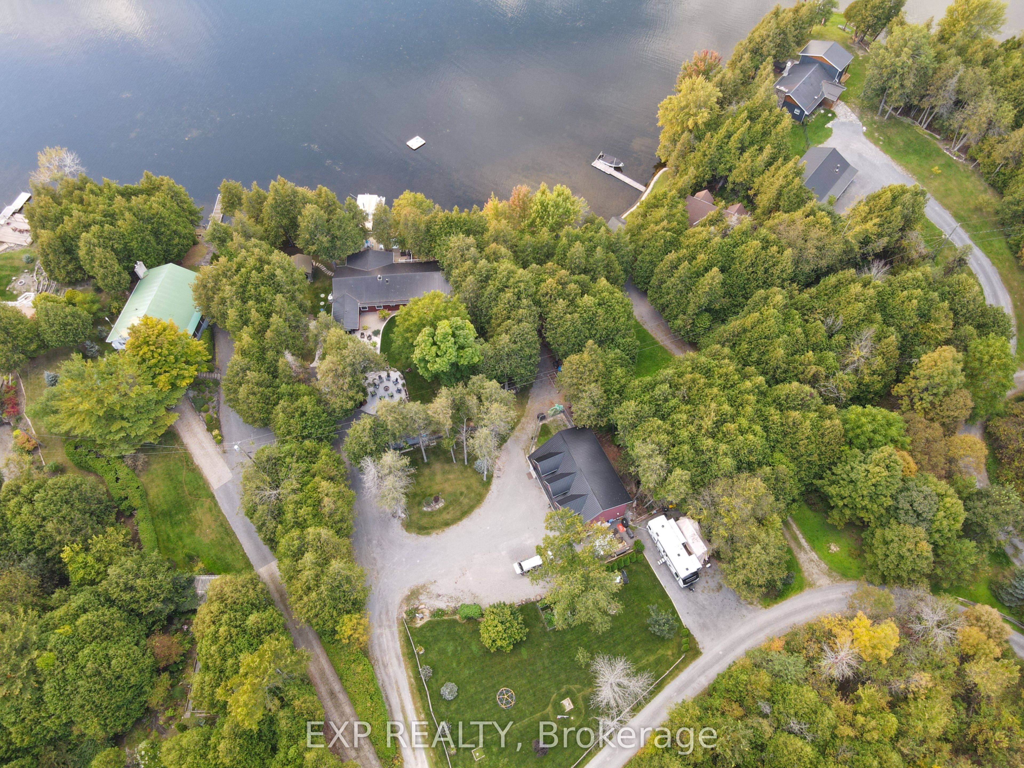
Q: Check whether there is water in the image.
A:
Yes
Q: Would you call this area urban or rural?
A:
rural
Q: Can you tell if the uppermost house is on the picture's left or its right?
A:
right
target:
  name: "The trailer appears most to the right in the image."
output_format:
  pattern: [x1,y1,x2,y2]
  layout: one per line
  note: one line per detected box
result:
[645,514,701,587]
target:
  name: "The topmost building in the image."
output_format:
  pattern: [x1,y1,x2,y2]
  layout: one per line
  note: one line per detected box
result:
[770,39,855,120]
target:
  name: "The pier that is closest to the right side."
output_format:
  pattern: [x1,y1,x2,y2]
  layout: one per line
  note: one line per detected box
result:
[590,157,648,194]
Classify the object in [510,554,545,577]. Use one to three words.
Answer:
car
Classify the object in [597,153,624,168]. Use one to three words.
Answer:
boat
